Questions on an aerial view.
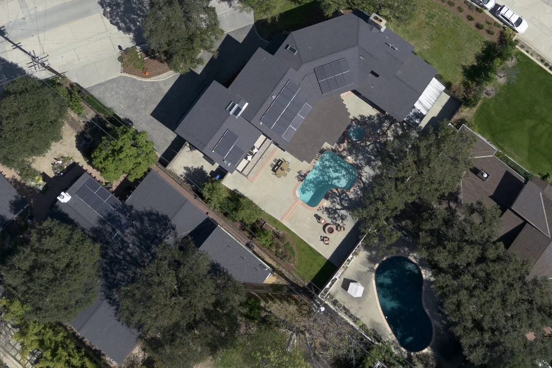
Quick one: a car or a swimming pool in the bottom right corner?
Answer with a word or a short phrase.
swimming pool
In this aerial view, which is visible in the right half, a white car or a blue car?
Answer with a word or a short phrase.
white car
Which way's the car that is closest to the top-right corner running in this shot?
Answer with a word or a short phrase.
on a diagonal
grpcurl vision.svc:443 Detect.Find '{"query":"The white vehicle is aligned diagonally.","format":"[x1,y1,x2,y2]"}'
[494,2,530,34]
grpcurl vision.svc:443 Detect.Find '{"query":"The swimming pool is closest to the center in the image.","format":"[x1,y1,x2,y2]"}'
[292,147,361,210]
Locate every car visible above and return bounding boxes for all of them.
[472,0,498,12]
[494,2,530,34]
